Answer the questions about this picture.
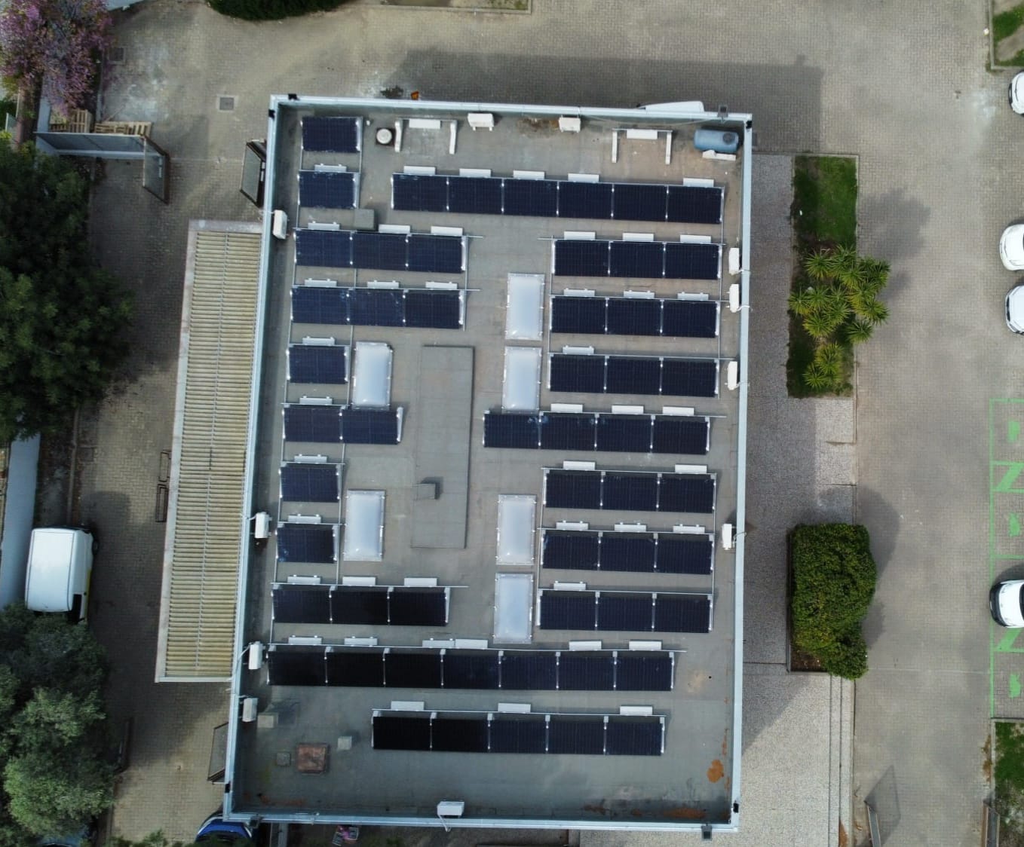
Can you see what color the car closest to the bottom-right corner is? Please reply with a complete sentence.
From above, the car closest to the bottom-right corner appears white.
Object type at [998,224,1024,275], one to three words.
car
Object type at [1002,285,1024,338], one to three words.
car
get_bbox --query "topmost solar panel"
[303,117,358,152]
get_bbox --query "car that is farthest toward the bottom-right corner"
[987,578,1024,632]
